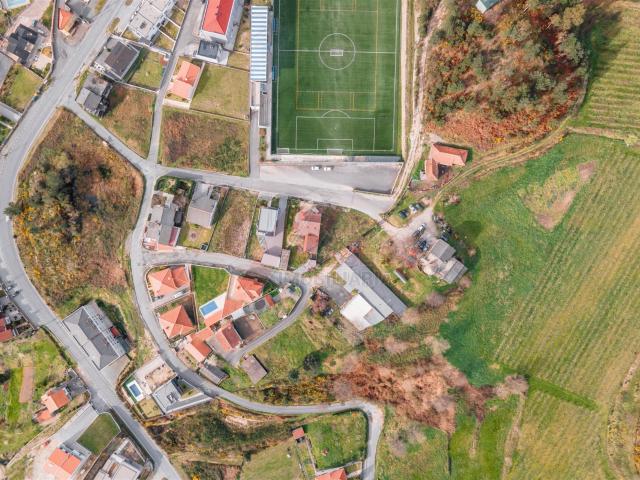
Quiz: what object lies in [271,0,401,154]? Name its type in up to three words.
soccer field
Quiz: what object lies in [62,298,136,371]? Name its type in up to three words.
building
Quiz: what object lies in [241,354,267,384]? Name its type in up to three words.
barn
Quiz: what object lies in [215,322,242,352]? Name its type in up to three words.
house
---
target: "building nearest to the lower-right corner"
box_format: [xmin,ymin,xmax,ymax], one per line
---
[441,257,468,284]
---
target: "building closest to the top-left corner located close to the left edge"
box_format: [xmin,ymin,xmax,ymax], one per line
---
[8,24,45,62]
